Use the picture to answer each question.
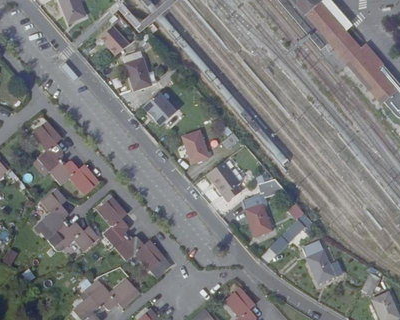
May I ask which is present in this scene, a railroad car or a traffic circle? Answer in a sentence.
The one in the frame is a railroad car.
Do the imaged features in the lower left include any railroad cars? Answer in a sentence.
No, the scene shows no railroad car in the lower left.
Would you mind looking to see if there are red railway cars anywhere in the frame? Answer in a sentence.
No, this view has no red railway car in it.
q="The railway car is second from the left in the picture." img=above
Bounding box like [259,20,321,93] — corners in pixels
[176,37,218,84]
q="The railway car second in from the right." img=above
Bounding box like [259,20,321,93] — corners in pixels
[213,80,252,124]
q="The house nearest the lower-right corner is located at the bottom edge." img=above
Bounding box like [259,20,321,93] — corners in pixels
[370,291,400,320]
